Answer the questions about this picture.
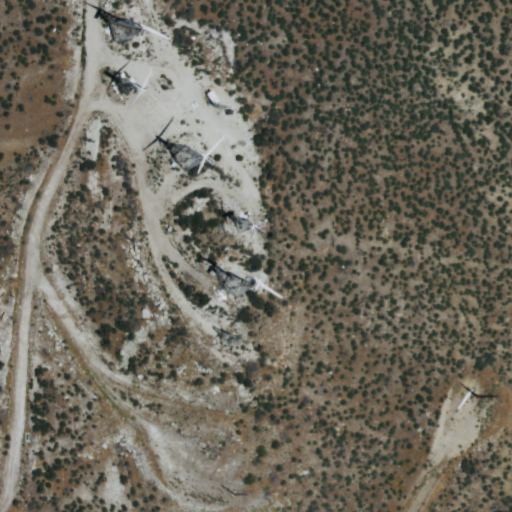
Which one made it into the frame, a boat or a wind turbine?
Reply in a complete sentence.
It is a wind turbine that can be seen here.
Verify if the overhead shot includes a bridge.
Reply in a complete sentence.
No, the photo shows no bridge.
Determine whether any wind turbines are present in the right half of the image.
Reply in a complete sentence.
Yes, a wind turbine appears in the right half of the image.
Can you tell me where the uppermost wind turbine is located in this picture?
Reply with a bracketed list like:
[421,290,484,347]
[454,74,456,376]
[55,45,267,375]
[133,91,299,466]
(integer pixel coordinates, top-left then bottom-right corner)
[109,20,164,44]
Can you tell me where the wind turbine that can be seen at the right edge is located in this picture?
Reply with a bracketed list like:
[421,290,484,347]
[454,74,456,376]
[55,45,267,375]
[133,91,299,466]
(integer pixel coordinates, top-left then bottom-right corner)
[460,382,498,410]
